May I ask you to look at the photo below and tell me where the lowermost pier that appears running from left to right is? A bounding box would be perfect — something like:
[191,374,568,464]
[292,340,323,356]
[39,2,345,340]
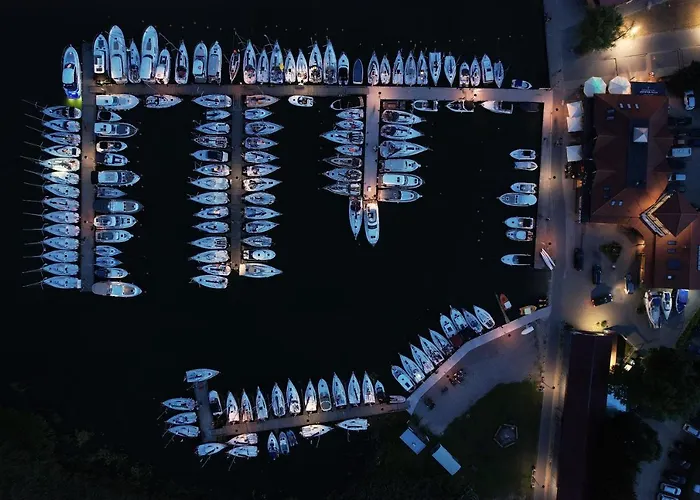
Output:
[211,400,403,438]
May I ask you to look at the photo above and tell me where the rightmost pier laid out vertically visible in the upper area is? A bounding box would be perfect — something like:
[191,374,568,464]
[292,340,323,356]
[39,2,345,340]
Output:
[364,98,379,200]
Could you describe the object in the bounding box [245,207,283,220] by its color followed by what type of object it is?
blue boat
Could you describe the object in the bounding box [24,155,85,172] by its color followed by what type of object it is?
white boat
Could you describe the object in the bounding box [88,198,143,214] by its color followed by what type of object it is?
blue boat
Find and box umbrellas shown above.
[583,76,606,98]
[567,116,582,132]
[608,75,630,94]
[566,146,582,161]
[567,100,583,116]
